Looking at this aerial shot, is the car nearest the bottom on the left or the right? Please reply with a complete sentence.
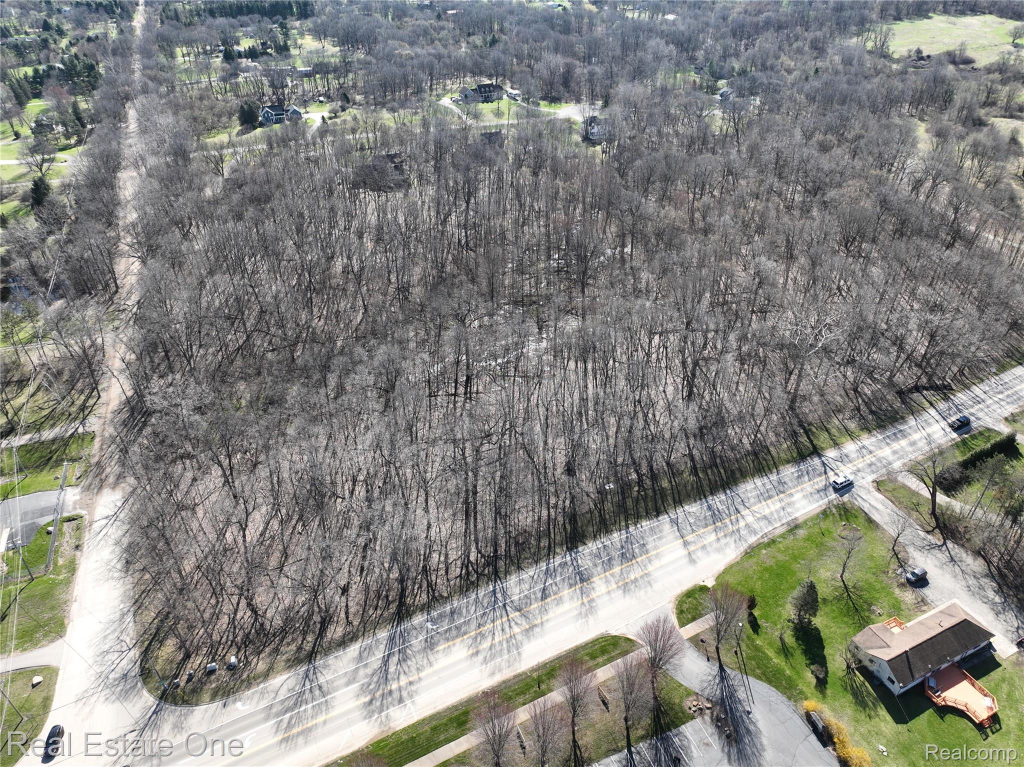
The car nearest the bottom is on the left side of the image.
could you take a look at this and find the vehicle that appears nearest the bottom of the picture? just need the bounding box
[32,726,69,761]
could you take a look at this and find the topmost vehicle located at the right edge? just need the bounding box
[950,419,973,432]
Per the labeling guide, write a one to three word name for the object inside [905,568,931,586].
car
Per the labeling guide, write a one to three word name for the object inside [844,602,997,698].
house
